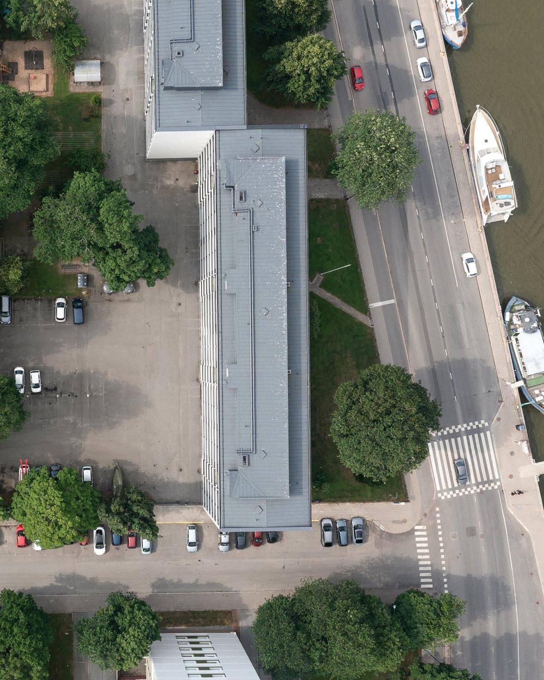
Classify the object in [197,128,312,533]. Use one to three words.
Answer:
building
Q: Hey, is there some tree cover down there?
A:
Yes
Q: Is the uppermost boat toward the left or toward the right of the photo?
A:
right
